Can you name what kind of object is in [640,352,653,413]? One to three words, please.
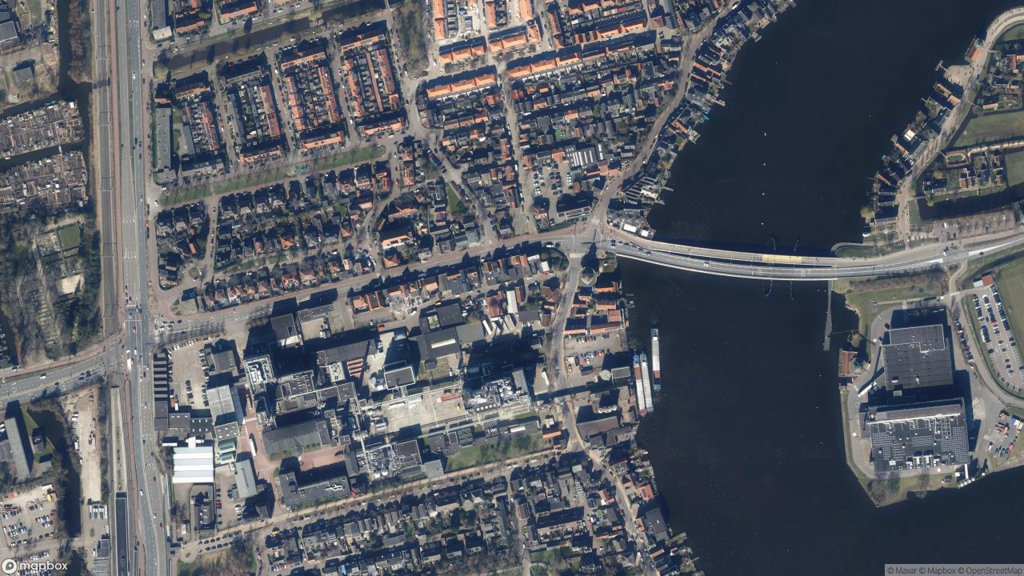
ship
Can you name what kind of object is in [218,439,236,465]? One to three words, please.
shed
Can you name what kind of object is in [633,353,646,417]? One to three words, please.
ship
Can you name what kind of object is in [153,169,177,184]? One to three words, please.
building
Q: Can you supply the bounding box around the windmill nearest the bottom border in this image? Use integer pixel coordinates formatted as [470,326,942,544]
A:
[849,357,867,374]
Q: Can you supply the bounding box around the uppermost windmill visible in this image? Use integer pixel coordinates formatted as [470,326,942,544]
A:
[578,268,597,286]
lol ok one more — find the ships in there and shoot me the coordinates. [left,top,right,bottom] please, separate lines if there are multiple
[651,328,661,391]
[640,352,653,413]
[633,353,646,417]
